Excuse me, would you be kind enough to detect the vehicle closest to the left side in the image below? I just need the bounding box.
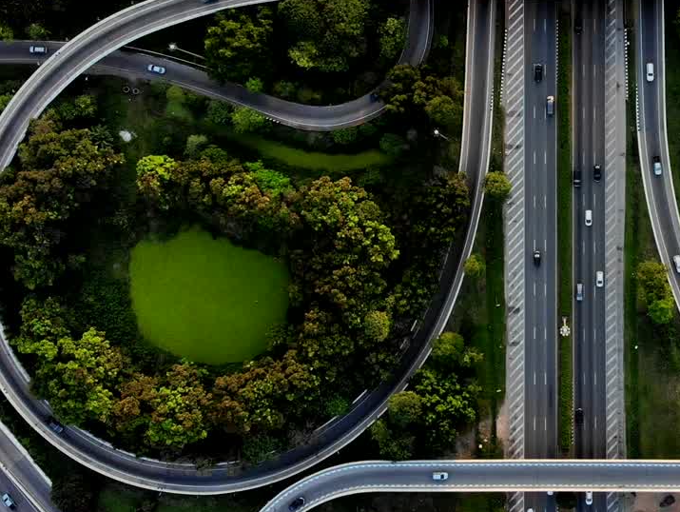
[1,494,17,511]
